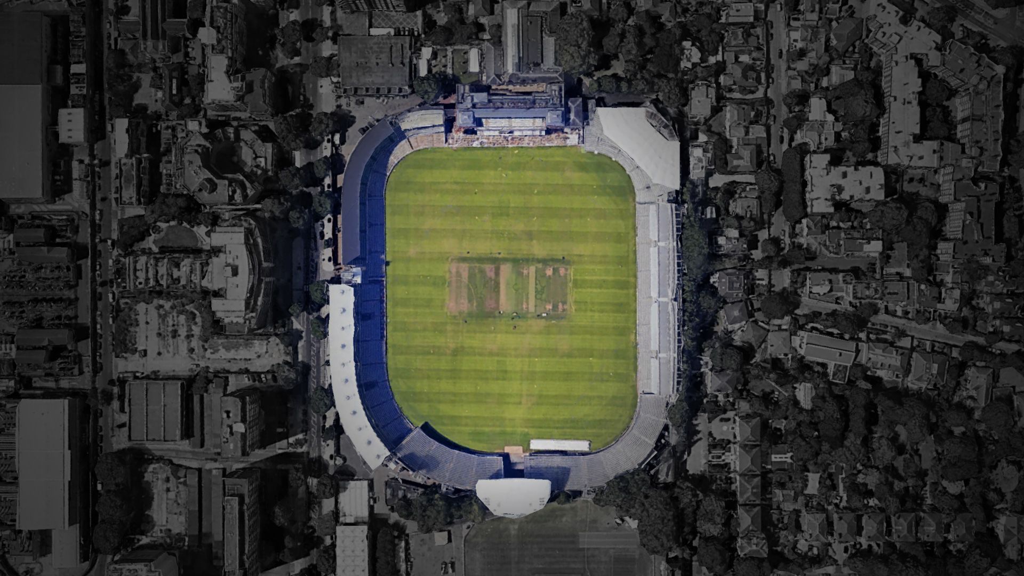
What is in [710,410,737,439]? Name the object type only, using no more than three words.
house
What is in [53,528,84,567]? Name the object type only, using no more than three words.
shed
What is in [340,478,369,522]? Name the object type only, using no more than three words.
building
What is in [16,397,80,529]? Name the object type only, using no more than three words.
building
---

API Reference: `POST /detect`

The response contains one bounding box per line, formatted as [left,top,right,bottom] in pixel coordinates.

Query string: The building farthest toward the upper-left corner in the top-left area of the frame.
[0,11,51,88]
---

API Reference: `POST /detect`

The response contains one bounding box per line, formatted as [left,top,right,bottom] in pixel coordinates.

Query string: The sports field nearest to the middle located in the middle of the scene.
[386,146,638,454]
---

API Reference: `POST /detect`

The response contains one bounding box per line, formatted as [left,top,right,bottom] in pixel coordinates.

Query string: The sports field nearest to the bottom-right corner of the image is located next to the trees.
[464,500,653,576]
